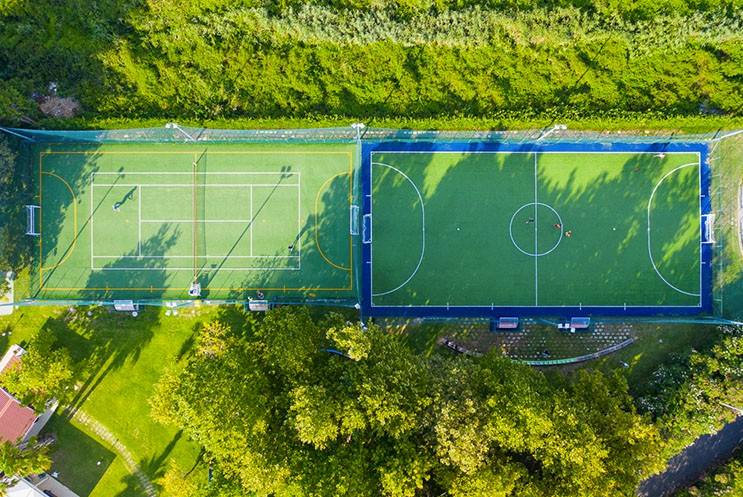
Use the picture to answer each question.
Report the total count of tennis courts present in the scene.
1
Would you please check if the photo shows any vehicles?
No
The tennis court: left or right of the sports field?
to the left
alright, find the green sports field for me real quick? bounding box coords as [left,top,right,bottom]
[361,141,712,317]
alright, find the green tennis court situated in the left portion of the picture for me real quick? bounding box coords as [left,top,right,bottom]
[36,141,359,300]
